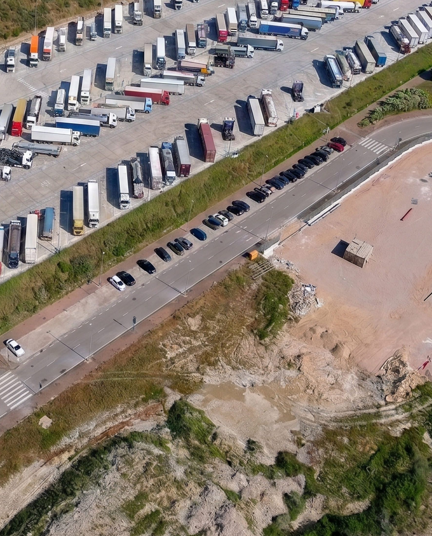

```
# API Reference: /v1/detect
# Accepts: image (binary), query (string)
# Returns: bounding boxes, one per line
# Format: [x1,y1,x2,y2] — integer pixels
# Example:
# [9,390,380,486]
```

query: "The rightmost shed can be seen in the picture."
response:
[343,239,373,267]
